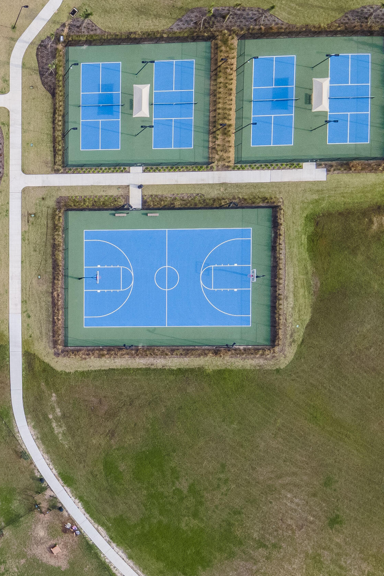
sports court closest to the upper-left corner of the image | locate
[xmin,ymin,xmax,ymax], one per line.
[64,41,212,168]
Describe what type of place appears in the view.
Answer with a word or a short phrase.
sports ground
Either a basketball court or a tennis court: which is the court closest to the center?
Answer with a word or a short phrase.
basketball court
